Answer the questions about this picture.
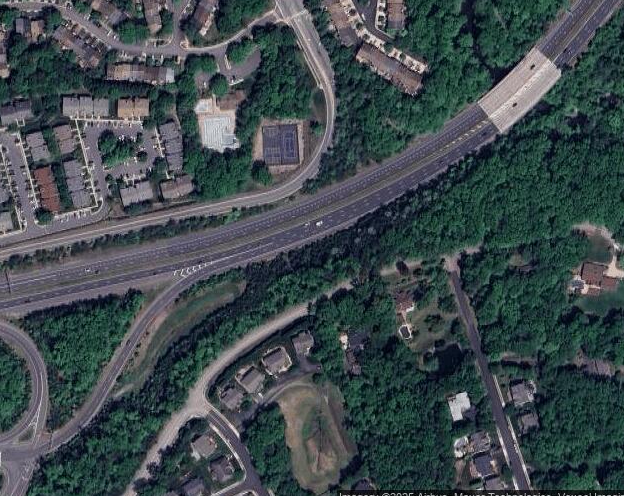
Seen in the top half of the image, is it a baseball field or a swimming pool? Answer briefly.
swimming pool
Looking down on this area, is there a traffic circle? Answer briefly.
No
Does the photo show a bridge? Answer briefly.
Yes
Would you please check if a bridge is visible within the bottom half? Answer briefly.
No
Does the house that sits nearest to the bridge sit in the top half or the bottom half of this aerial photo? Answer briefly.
top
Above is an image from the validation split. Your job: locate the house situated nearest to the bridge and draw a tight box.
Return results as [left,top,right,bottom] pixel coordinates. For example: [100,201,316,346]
[361,43,425,92]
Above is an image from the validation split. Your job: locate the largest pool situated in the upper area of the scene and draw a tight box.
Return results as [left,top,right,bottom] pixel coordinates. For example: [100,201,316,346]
[196,99,240,151]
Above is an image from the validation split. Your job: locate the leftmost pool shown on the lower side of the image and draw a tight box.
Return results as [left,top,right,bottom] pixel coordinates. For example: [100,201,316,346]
[398,323,412,340]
